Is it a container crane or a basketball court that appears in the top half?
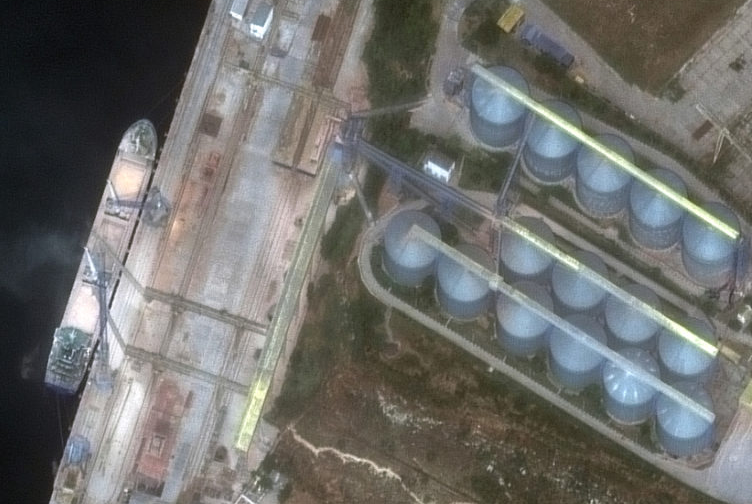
container crane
